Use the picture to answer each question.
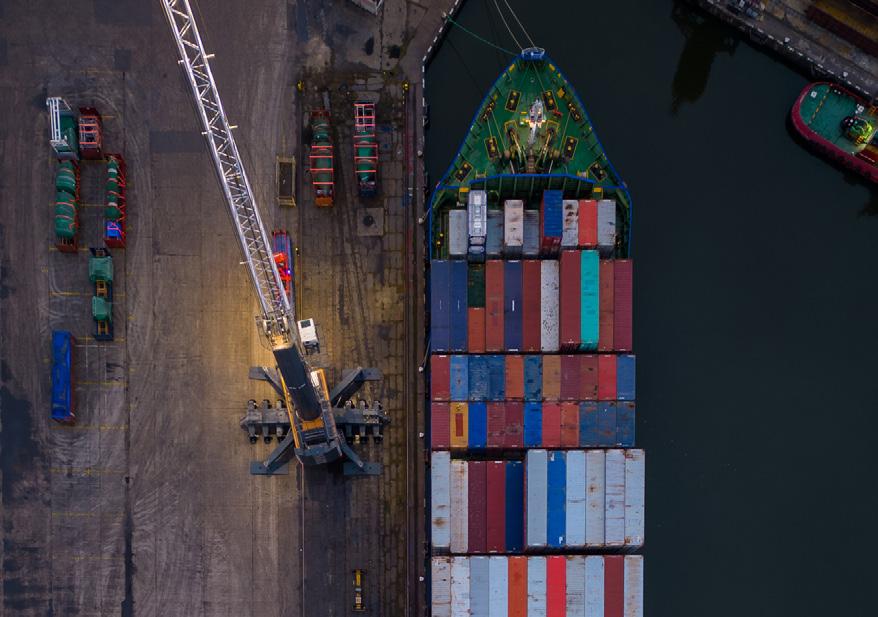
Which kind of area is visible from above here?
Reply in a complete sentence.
What you see here is a port.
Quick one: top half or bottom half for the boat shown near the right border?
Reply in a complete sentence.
The boat shown near the right border is in the top half of the image.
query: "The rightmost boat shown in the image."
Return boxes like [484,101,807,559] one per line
[791,78,878,190]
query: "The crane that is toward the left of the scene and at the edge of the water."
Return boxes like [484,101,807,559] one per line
[156,0,388,475]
